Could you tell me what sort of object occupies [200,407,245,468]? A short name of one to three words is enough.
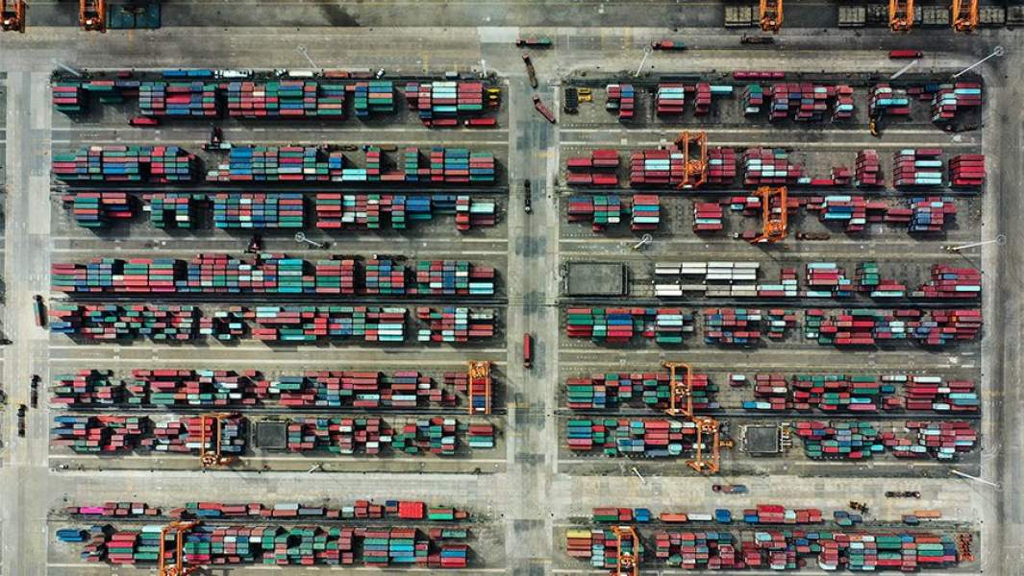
container crane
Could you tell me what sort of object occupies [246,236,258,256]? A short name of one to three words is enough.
vehicle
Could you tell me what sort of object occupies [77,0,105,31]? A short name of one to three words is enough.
container crane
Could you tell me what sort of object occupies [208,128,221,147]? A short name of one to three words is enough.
vehicle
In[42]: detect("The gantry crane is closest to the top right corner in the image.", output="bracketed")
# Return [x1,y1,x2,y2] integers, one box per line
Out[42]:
[953,0,979,32]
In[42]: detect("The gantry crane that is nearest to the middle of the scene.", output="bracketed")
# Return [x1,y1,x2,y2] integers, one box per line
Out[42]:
[469,357,496,414]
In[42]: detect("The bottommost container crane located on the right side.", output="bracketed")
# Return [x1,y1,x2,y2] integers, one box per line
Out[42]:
[613,514,639,576]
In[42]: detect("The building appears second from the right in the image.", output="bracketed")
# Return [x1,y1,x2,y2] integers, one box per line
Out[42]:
[565,261,625,294]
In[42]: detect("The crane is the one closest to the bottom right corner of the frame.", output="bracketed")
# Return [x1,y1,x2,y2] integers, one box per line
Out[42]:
[682,410,720,471]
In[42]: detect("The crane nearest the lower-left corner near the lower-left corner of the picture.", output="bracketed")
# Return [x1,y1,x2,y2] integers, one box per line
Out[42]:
[158,515,208,576]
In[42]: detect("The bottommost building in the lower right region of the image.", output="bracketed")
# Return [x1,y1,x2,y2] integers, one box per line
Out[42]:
[743,422,780,454]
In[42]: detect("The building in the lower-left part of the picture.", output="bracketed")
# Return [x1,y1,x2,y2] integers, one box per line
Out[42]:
[256,418,291,450]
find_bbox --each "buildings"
[743,422,780,454]
[256,418,291,450]
[565,261,625,294]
